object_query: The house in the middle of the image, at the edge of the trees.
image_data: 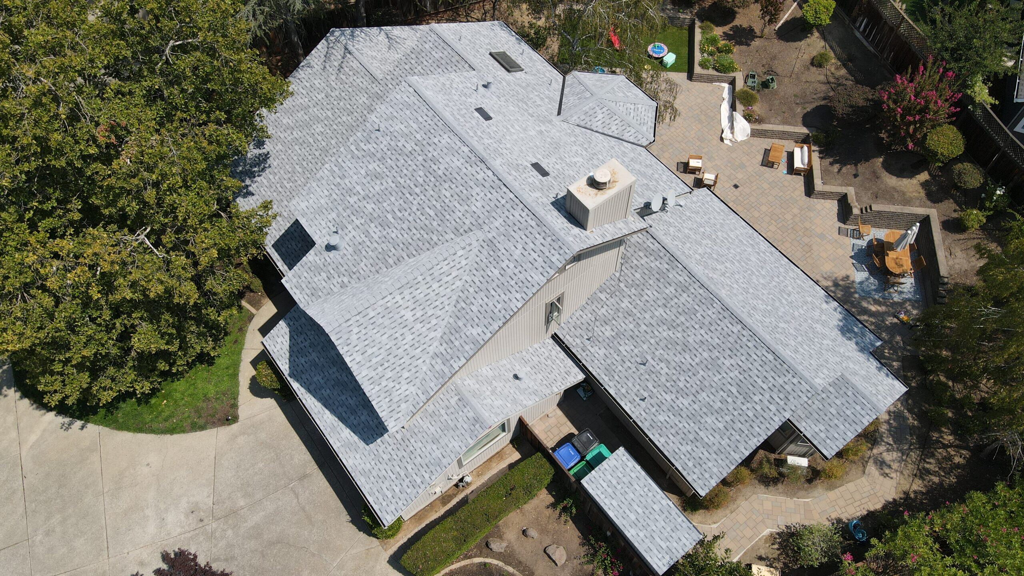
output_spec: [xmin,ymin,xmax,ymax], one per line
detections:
[215,21,910,530]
